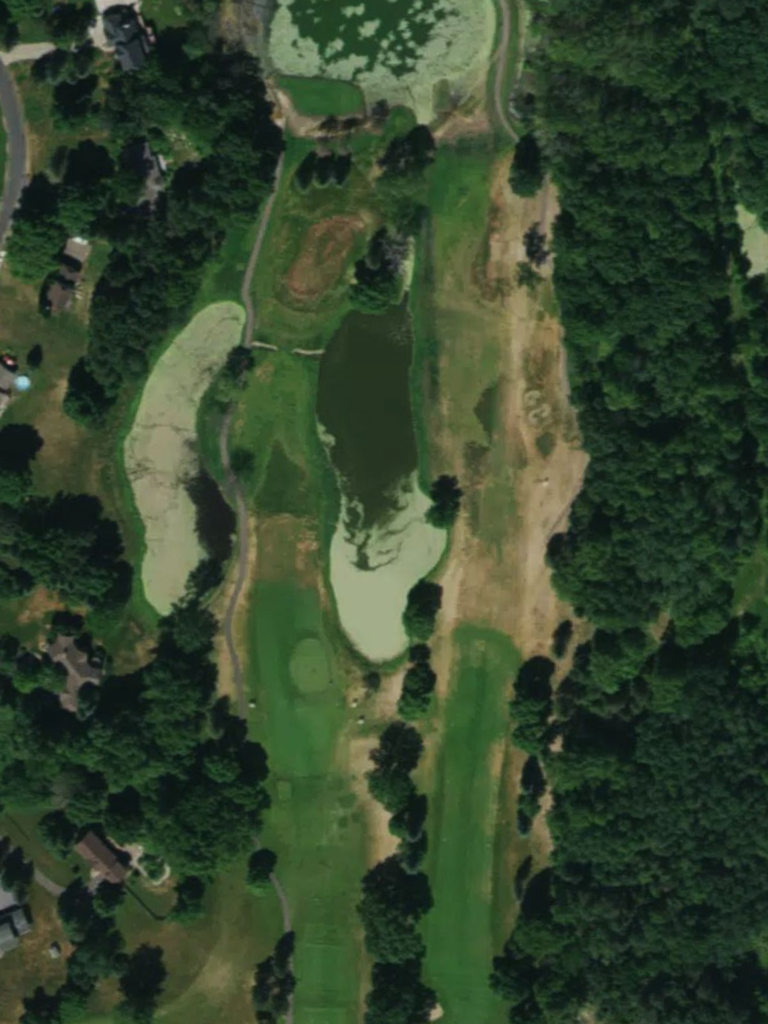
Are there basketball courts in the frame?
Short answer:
No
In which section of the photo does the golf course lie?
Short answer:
center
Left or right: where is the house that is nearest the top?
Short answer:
left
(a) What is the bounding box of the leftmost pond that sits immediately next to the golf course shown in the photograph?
[123,300,246,617]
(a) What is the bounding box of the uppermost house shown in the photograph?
[98,3,151,71]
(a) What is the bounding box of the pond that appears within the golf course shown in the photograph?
[315,237,449,663]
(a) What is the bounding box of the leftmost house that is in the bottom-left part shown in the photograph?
[0,911,29,951]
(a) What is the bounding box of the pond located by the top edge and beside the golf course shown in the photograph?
[263,0,500,126]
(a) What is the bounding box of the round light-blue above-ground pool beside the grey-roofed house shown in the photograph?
[15,374,31,391]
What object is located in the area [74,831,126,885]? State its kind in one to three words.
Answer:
house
